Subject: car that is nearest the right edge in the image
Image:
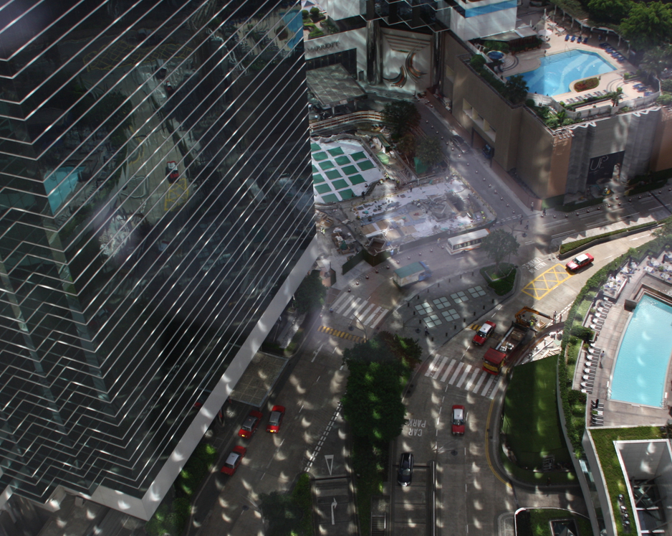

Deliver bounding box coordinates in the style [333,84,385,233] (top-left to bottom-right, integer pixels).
[564,253,597,272]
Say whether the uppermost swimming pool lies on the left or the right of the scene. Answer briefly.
right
